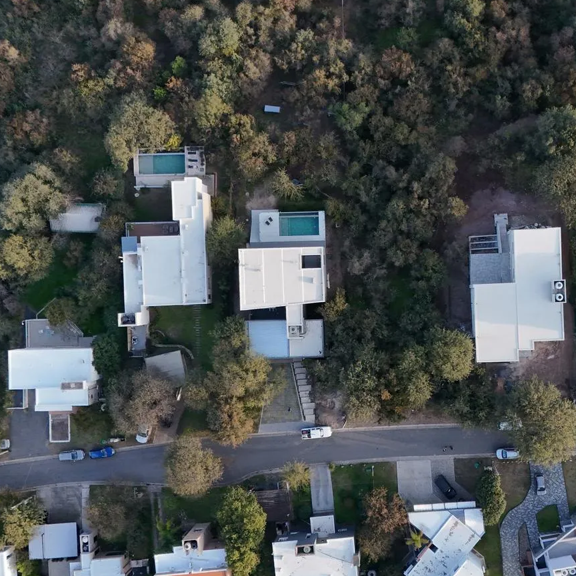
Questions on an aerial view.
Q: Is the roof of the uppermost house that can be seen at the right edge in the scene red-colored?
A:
No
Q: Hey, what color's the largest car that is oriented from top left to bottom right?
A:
black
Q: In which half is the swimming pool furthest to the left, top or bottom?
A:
top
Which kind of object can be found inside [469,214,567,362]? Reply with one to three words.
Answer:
house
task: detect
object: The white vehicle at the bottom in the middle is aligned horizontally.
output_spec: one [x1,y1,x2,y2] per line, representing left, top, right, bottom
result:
[301,426,332,440]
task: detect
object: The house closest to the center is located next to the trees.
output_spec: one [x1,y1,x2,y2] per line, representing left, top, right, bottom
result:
[239,247,328,362]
